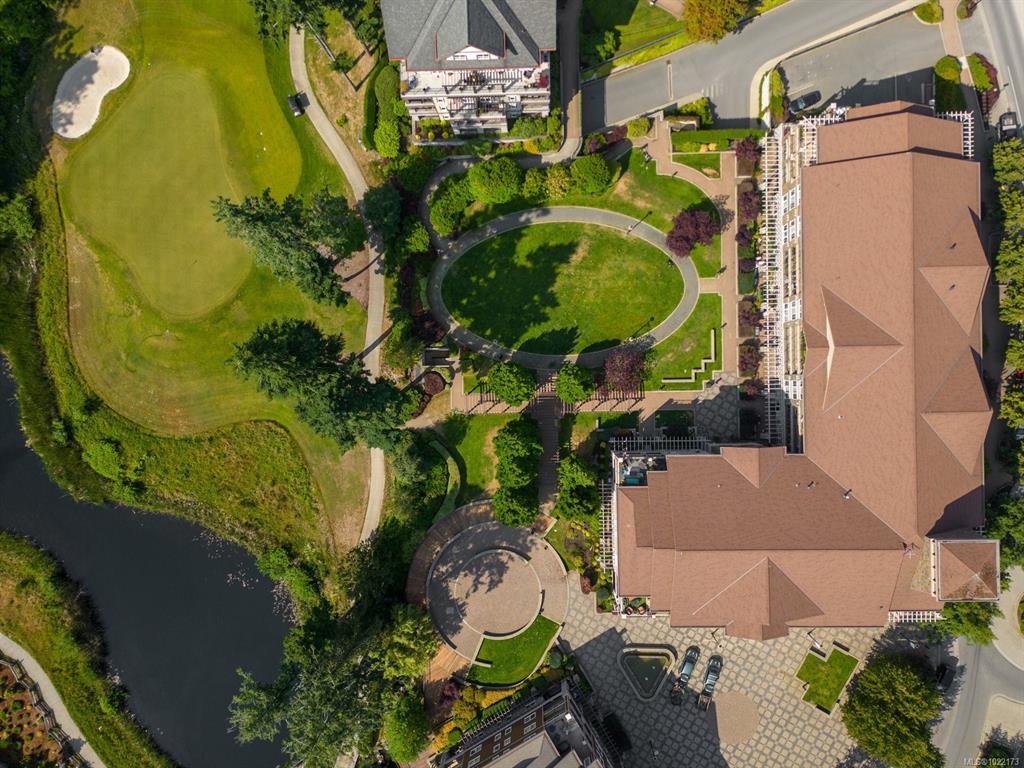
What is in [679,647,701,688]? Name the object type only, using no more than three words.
car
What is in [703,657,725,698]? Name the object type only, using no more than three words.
car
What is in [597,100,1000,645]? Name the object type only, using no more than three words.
building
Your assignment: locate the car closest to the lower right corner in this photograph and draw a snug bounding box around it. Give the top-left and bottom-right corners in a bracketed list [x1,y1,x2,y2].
[939,657,963,693]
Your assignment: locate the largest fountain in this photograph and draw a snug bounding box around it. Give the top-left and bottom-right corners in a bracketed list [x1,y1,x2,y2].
[617,642,680,706]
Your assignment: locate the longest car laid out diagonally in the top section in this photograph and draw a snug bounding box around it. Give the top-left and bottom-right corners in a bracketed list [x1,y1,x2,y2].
[788,84,825,113]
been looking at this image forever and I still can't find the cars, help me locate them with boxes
[1000,108,1024,146]
[788,84,825,113]
[703,657,725,698]
[679,647,701,688]
[939,657,963,693]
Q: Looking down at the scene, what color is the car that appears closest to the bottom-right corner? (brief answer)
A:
black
